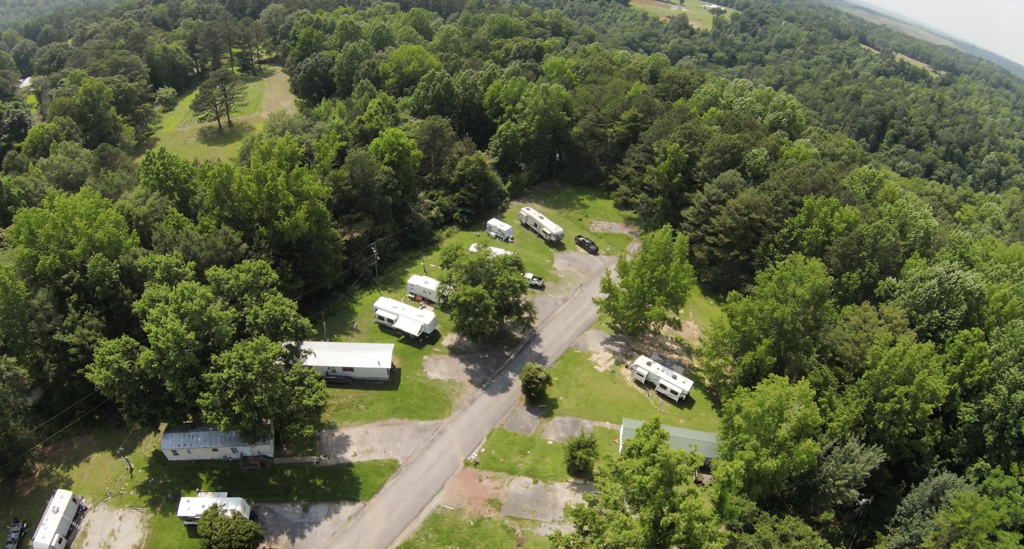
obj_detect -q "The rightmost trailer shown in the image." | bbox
[624,354,694,408]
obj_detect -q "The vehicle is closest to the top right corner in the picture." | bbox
[574,235,598,255]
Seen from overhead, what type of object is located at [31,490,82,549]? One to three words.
trailer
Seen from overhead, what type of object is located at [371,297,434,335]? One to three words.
trailer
